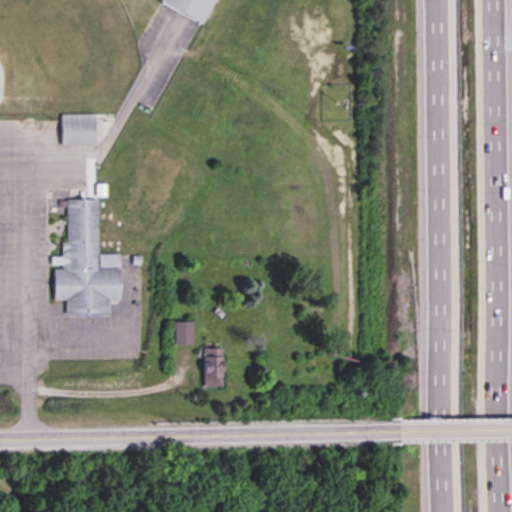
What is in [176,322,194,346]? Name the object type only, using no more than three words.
building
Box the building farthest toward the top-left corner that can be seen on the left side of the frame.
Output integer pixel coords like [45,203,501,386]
[61,114,96,144]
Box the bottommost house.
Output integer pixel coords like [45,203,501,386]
[200,344,226,390]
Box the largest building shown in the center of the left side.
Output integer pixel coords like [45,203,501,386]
[51,200,122,316]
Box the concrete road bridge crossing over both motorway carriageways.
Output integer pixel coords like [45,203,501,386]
[393,418,512,445]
